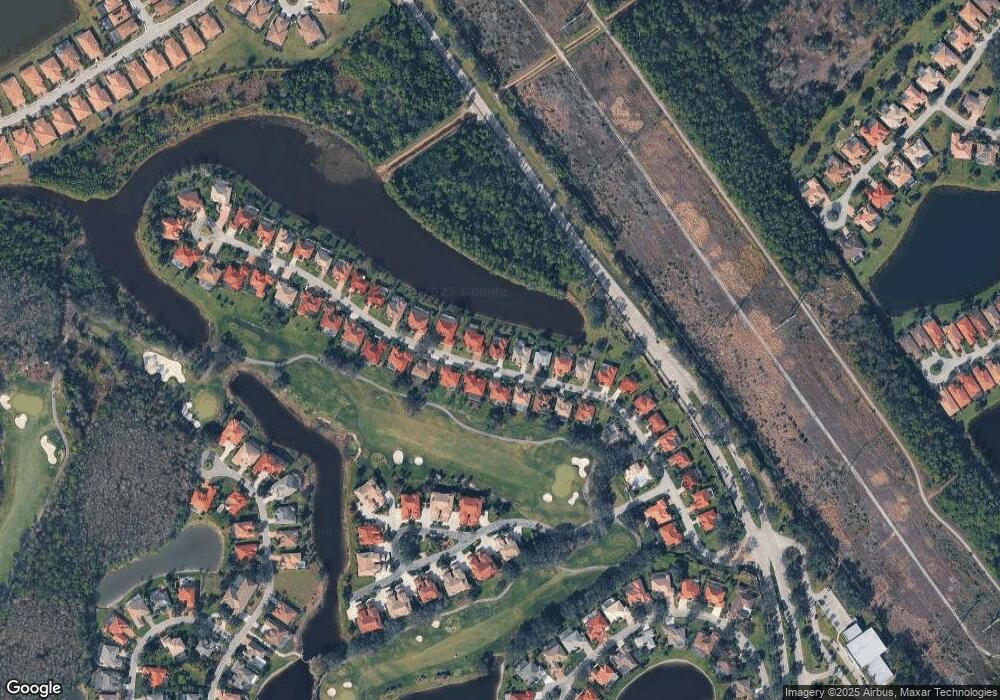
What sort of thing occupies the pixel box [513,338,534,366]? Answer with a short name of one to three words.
house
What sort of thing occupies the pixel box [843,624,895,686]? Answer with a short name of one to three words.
building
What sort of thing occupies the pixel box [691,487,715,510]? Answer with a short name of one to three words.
house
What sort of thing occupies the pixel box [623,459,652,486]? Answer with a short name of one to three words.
building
